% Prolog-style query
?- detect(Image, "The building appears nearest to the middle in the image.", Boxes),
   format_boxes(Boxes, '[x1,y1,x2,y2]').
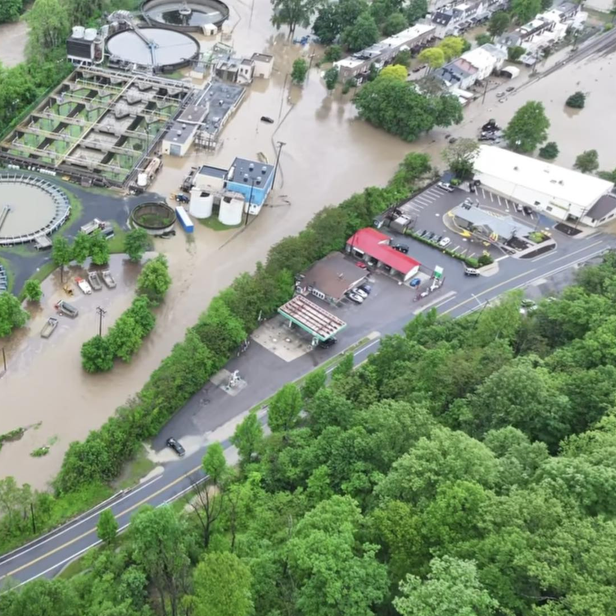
[300,253,366,311]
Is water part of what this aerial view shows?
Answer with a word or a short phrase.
Yes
